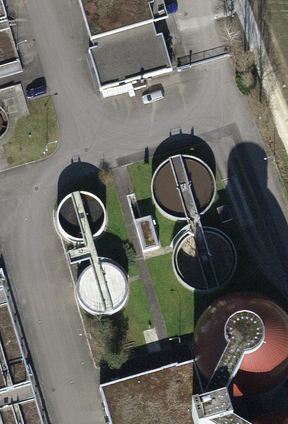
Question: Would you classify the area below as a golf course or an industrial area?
industrial area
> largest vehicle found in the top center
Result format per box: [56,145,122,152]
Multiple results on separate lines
[142,90,165,104]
